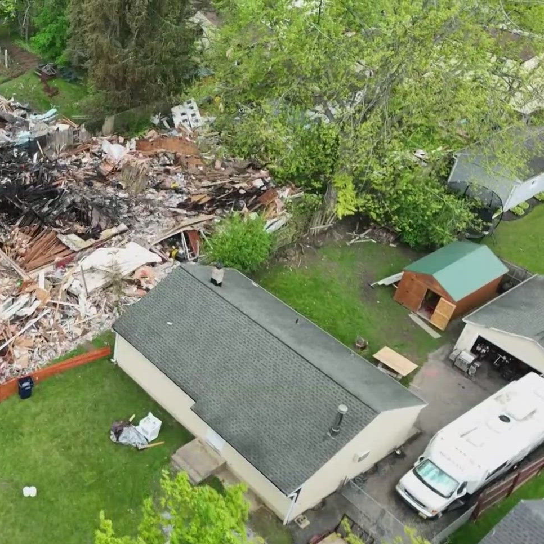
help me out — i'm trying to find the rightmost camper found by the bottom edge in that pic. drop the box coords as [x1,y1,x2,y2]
[394,361,544,524]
